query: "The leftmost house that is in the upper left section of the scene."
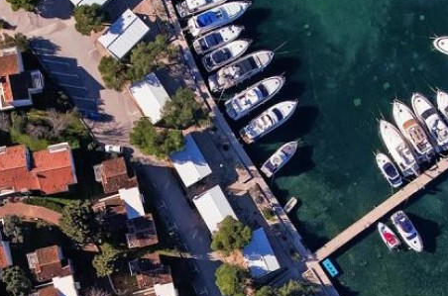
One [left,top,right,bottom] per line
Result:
[0,48,46,113]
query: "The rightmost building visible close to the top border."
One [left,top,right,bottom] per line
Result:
[97,8,149,58]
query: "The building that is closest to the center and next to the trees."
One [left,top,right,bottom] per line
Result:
[168,142,211,187]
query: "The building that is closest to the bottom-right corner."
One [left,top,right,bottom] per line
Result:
[243,228,279,277]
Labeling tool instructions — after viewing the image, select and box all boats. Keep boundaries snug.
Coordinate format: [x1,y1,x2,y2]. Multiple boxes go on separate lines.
[377,154,403,192]
[413,92,448,154]
[259,140,297,179]
[431,86,448,121]
[283,197,295,212]
[223,71,294,122]
[175,0,219,19]
[389,208,433,261]
[205,51,273,92]
[236,99,298,144]
[185,0,251,39]
[200,39,251,72]
[377,223,399,250]
[380,120,418,180]
[189,26,244,55]
[393,95,434,164]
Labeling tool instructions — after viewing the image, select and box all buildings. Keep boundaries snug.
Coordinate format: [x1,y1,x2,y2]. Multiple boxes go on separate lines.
[129,254,176,296]
[193,185,233,233]
[130,72,168,125]
[0,219,13,272]
[27,245,82,296]
[0,48,46,113]
[168,142,211,187]
[93,157,158,248]
[243,228,279,277]
[97,8,149,58]
[0,142,77,197]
